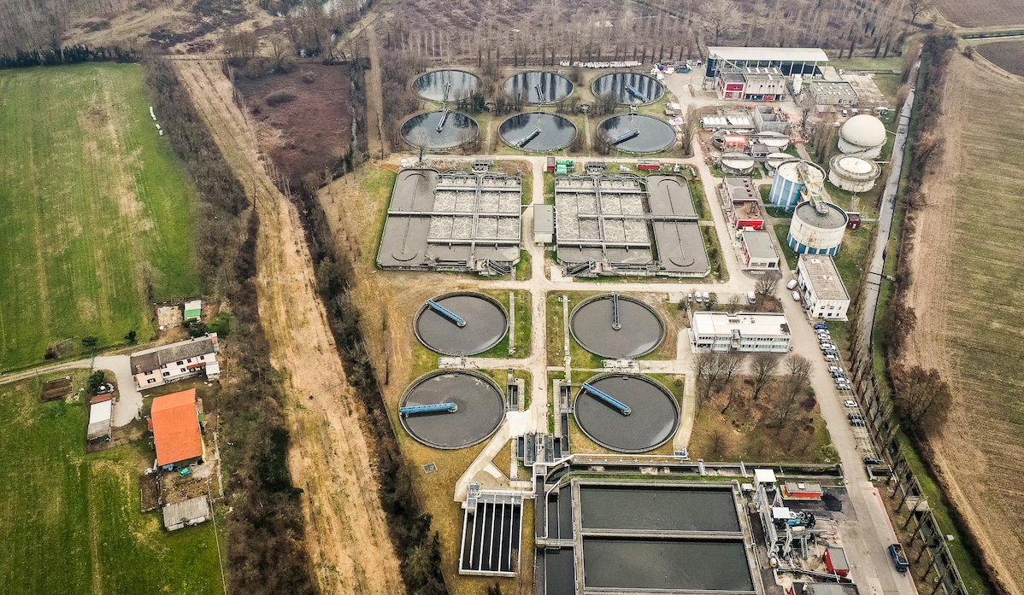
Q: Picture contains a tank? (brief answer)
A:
Yes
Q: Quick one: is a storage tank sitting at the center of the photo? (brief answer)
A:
Yes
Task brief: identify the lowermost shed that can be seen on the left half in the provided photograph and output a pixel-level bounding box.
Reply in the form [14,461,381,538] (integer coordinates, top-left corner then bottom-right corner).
[164,496,210,535]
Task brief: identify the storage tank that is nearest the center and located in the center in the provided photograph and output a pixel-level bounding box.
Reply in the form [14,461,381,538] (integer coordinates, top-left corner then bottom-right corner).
[413,291,509,362]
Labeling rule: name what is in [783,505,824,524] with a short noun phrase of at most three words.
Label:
vehicle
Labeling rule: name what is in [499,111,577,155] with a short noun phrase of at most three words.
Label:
storage tank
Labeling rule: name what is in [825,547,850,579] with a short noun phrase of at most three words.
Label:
building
